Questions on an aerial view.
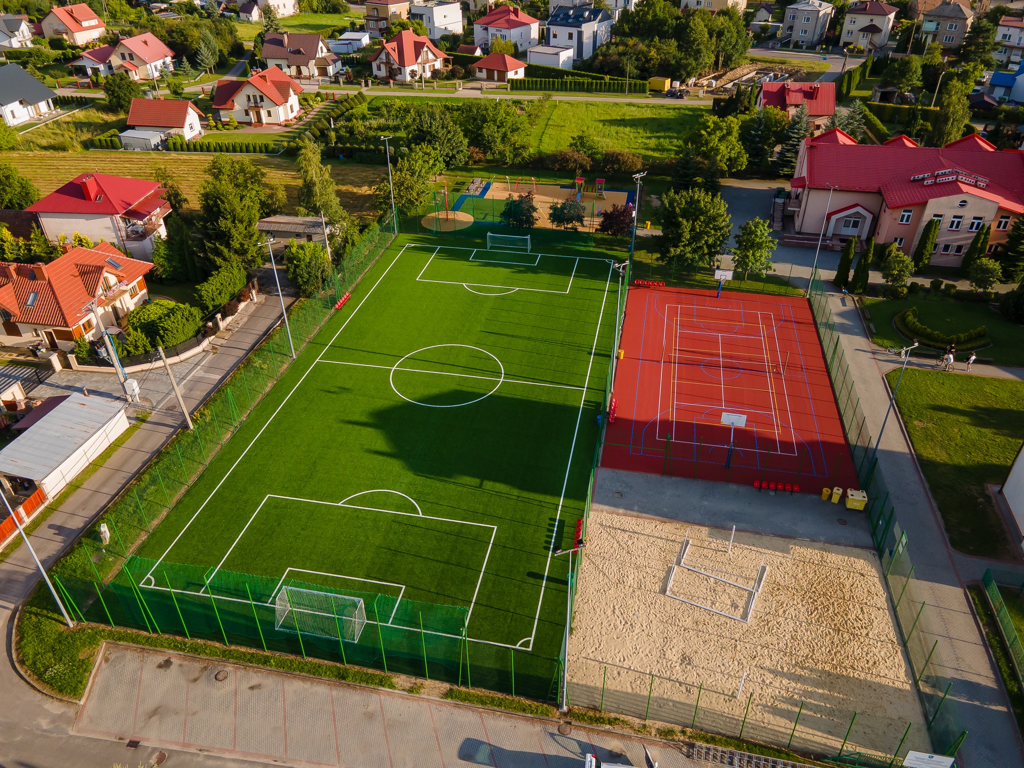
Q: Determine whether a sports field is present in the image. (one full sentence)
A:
Yes, looking at the shot, I can spot a sports field.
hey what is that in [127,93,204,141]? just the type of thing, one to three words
shed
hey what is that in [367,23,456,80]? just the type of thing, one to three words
house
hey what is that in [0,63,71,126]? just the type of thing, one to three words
house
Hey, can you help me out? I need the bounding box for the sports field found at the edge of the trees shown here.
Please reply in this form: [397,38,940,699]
[76,233,629,702]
